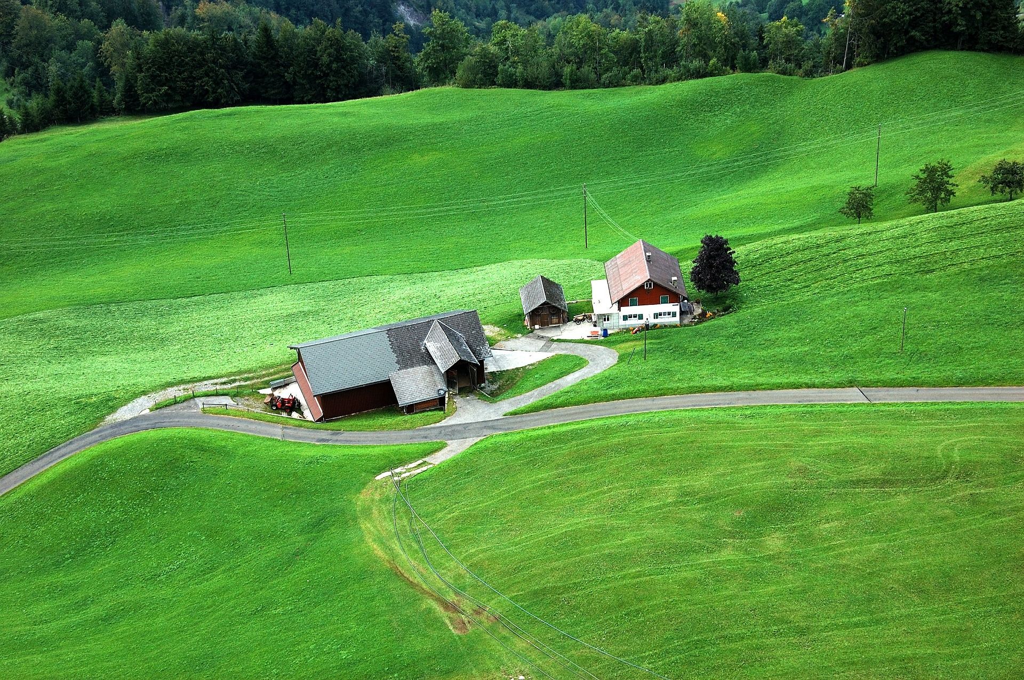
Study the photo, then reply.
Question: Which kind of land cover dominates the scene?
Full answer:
What you mostly see from above here is grass.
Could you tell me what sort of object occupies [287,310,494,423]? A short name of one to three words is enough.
barn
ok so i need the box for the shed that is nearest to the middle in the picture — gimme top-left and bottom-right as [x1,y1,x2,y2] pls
[519,275,568,331]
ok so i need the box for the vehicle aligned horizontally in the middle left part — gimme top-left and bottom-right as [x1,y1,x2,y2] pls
[258,395,301,413]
